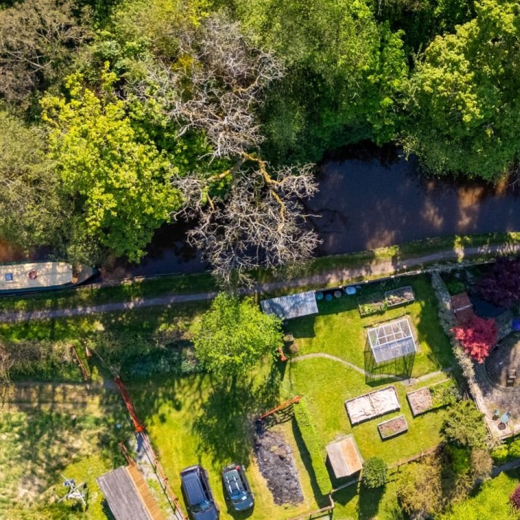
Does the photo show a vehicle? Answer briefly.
Yes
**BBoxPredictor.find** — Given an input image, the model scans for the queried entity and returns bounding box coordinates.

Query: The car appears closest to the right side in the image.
[222,459,255,514]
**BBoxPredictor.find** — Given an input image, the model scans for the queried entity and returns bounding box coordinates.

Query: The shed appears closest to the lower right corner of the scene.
[326,433,362,478]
